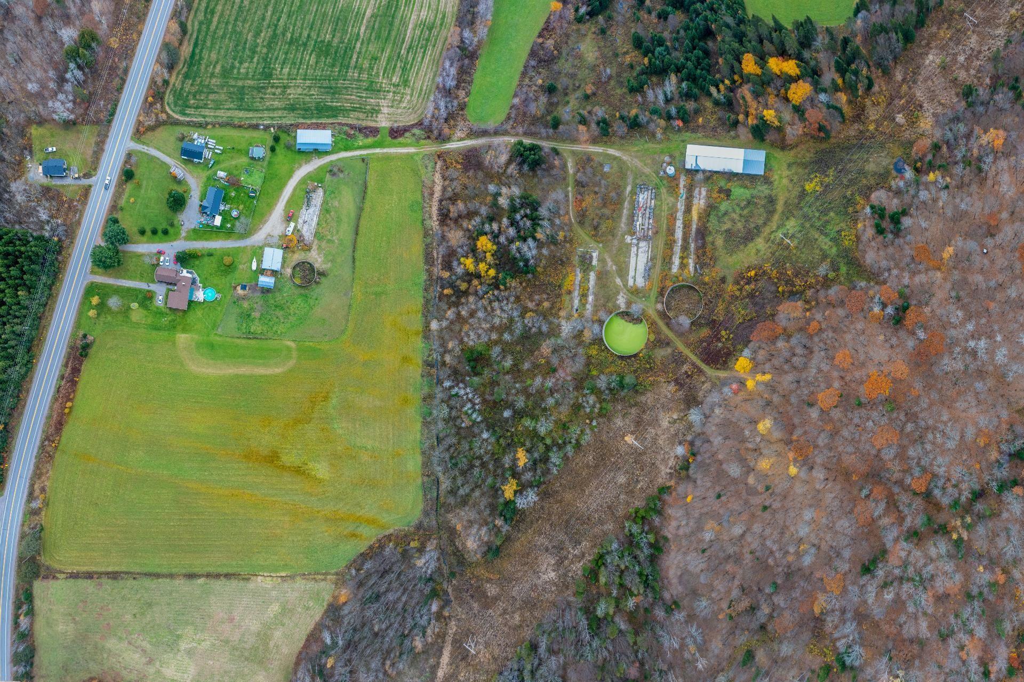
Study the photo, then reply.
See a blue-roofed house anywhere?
Yes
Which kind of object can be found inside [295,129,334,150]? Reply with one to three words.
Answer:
barn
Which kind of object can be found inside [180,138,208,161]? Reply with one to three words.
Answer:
building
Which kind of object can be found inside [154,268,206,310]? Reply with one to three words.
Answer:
house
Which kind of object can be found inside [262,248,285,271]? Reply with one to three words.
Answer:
shed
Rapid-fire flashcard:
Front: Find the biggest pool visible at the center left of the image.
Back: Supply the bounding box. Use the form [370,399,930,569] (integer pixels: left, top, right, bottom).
[202,288,217,301]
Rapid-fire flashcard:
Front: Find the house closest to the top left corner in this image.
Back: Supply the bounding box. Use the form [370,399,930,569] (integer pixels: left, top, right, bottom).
[40,159,72,176]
